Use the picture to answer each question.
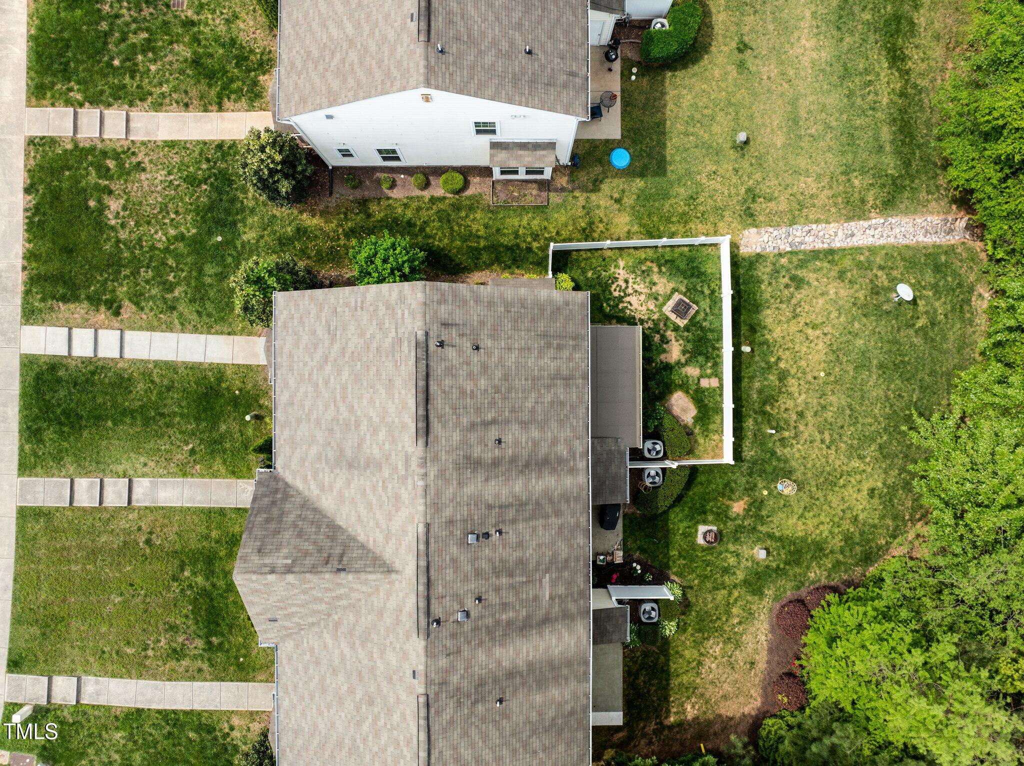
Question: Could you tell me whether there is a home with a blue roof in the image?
No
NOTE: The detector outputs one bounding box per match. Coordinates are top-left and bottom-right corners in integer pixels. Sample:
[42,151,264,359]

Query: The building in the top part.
[268,0,631,180]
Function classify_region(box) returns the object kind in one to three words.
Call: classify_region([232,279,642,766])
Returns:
house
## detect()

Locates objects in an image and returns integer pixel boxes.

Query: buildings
[268,0,631,180]
[232,279,642,766]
